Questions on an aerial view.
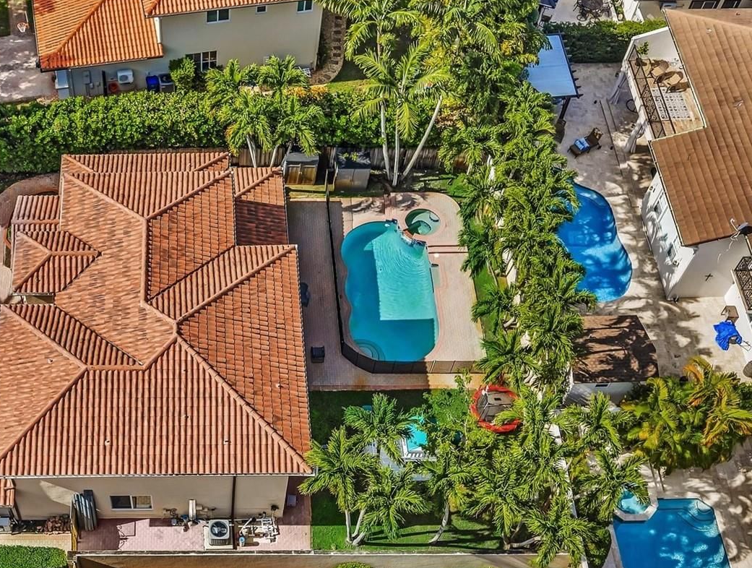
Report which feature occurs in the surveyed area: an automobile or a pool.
pool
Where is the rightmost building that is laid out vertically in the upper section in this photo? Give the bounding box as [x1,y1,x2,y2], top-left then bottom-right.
[597,2,752,357]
